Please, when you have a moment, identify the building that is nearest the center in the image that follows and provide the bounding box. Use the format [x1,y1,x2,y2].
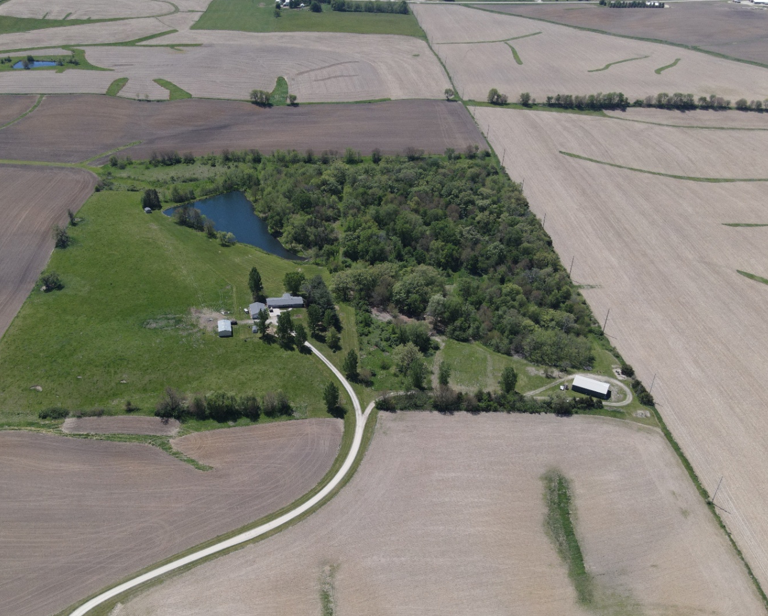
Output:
[266,287,305,308]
